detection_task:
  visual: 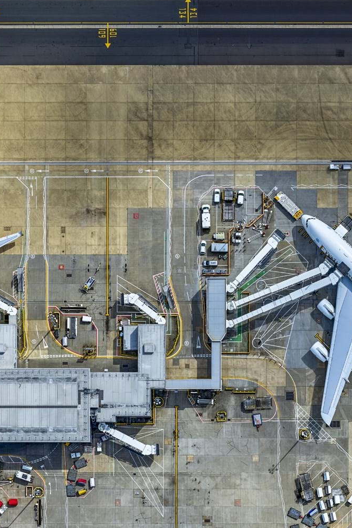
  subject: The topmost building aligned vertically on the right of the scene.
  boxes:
[206,279,226,342]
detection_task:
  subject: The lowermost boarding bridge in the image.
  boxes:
[97,423,158,455]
